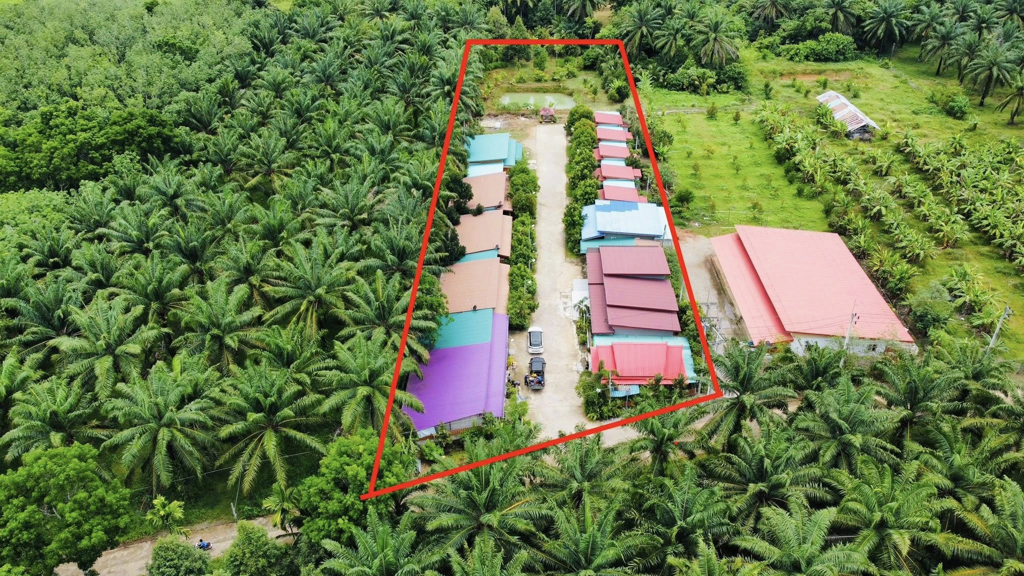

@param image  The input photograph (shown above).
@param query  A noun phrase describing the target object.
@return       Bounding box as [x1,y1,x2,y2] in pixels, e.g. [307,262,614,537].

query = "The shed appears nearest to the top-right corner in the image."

[812,91,876,142]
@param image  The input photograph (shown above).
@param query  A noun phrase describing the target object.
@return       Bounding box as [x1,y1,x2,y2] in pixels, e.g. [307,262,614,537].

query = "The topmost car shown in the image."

[527,329,544,356]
